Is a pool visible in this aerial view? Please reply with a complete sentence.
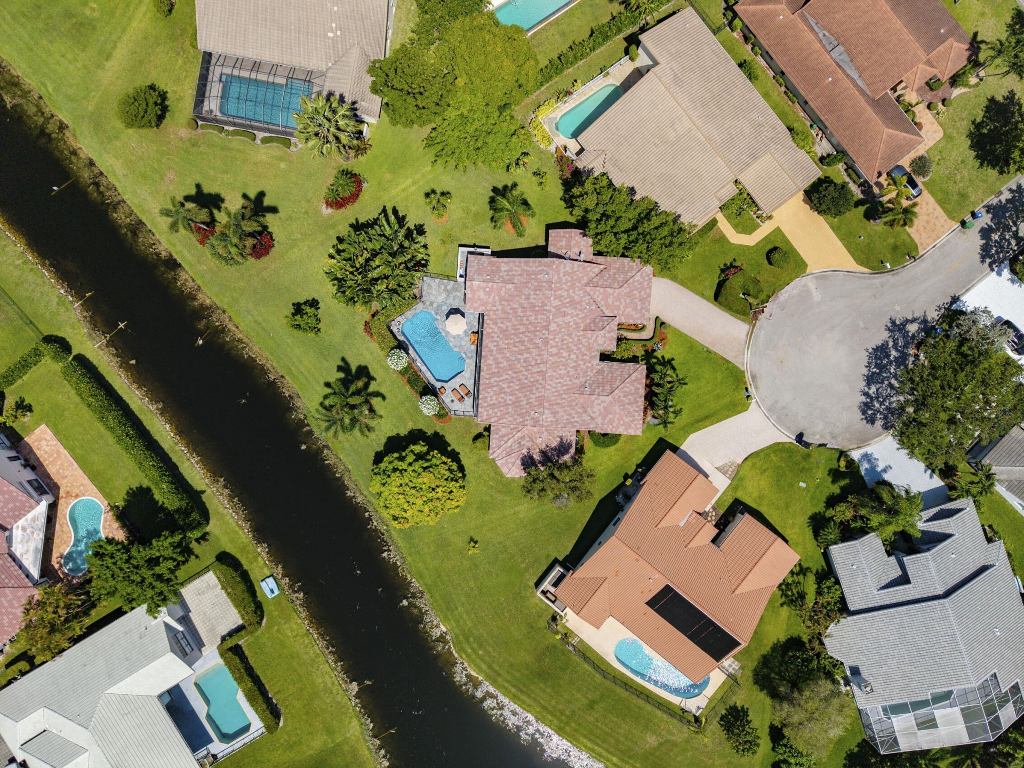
Yes, the frame does contain a pool.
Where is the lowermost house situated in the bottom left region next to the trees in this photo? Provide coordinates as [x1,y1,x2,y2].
[0,600,202,768]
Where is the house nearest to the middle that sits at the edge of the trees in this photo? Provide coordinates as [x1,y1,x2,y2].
[465,229,652,478]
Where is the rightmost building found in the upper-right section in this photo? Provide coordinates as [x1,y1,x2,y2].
[732,0,977,185]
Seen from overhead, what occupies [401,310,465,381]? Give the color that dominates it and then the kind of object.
blue swimming pool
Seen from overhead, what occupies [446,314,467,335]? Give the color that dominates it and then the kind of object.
white umbrella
